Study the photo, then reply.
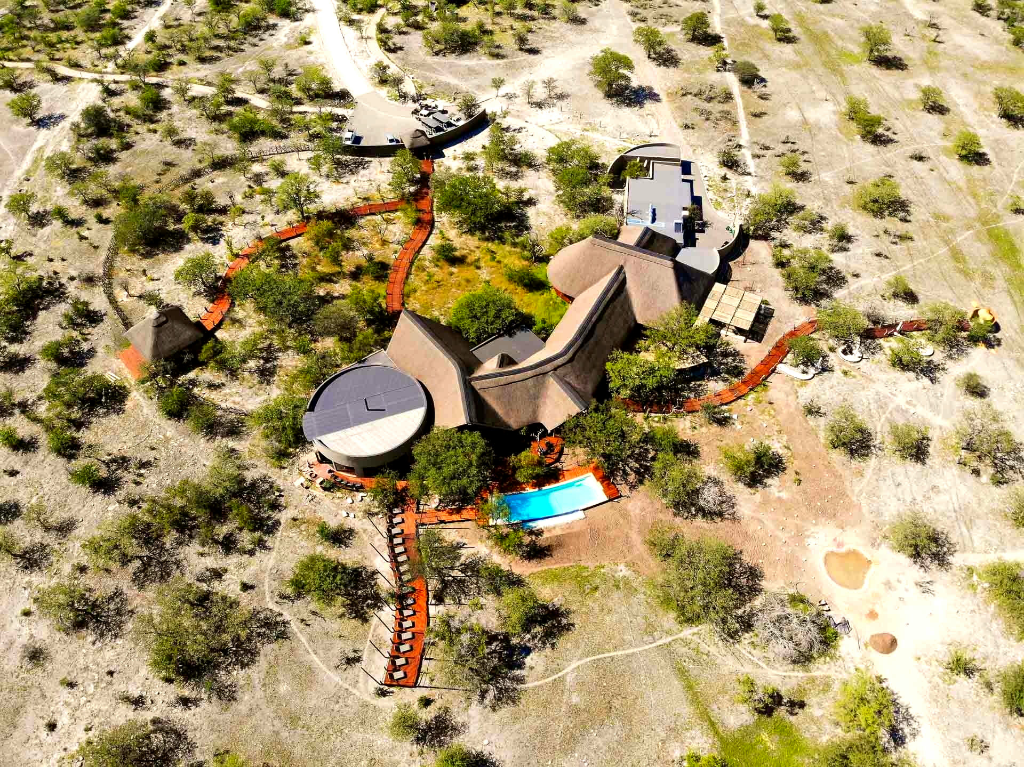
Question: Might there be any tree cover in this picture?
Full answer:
Yes, some tree cover is visible.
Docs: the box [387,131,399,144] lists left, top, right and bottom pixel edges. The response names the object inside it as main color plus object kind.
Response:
white vehicle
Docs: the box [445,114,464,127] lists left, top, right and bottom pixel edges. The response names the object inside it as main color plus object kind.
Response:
white vehicle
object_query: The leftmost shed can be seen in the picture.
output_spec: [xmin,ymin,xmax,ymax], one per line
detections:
[124,306,203,360]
